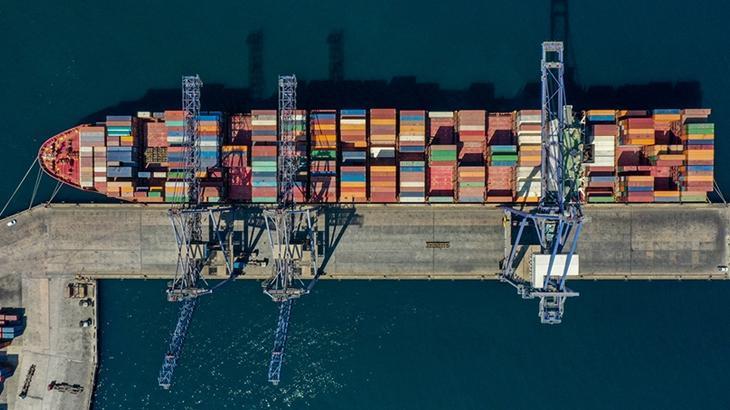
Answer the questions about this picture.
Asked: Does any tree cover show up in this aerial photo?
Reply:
No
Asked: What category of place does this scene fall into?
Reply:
port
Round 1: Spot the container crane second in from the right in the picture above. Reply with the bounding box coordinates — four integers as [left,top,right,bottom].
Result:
[264,76,324,385]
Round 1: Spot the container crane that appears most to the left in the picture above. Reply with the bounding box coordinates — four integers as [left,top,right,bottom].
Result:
[157,76,245,389]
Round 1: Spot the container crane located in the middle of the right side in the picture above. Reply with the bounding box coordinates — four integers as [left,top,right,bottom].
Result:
[495,39,582,322]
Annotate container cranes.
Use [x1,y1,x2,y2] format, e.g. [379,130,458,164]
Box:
[157,76,245,389]
[264,76,324,385]
[495,39,582,322]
